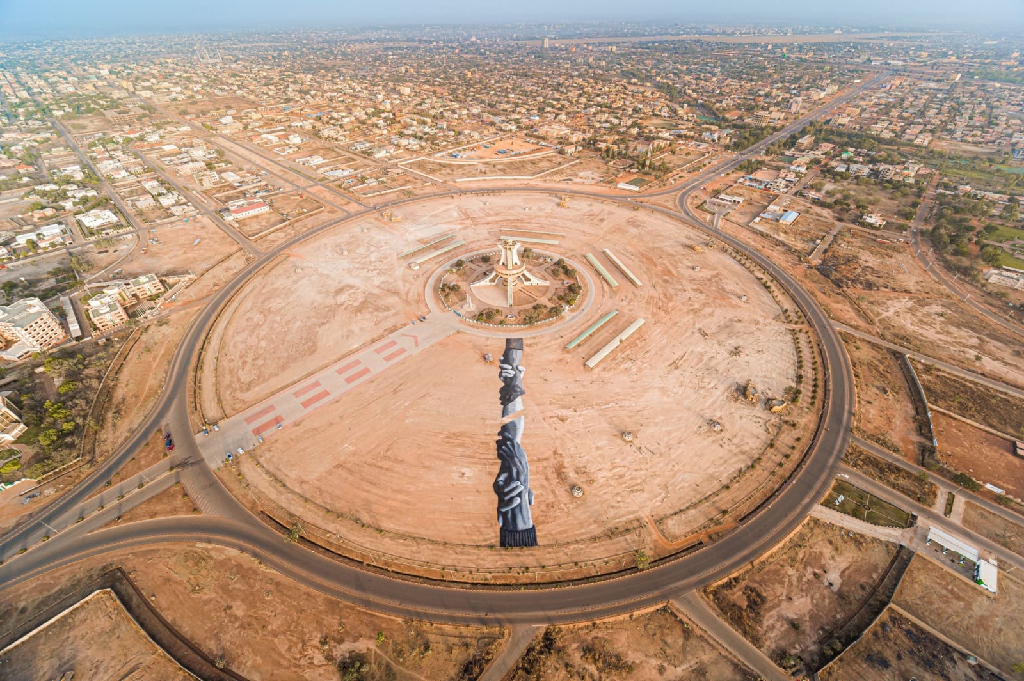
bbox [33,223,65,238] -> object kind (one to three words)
building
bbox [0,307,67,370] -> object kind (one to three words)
building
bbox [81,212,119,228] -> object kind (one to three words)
house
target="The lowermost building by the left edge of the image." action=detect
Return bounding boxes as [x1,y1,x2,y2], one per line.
[0,401,42,442]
